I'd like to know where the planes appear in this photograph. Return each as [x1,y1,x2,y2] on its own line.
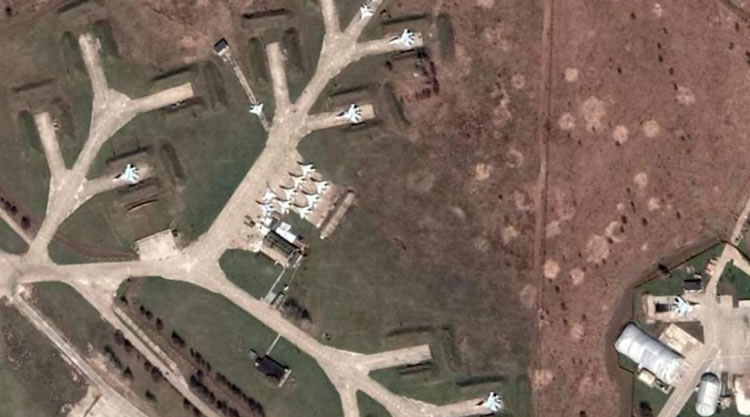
[304,192,323,207]
[255,202,275,215]
[672,298,700,317]
[279,186,298,200]
[297,165,317,179]
[113,164,139,183]
[312,180,332,194]
[474,392,502,410]
[289,174,308,188]
[334,104,363,123]
[294,204,314,218]
[275,199,294,213]
[262,185,277,205]
[249,99,263,119]
[387,30,415,49]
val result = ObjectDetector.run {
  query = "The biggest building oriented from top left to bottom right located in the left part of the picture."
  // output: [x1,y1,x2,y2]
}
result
[264,228,299,259]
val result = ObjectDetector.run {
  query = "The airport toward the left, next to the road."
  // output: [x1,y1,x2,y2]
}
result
[0,0,498,417]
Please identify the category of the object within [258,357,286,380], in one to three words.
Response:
house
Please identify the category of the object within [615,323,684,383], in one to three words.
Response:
hangar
